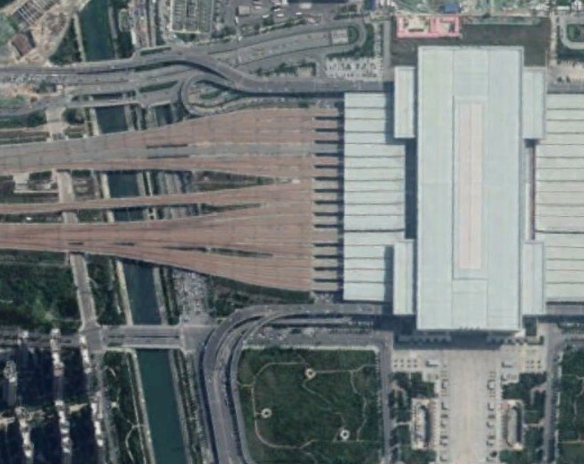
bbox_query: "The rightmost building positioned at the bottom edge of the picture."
[504,399,522,451]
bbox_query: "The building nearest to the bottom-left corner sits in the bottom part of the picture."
[17,408,34,464]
